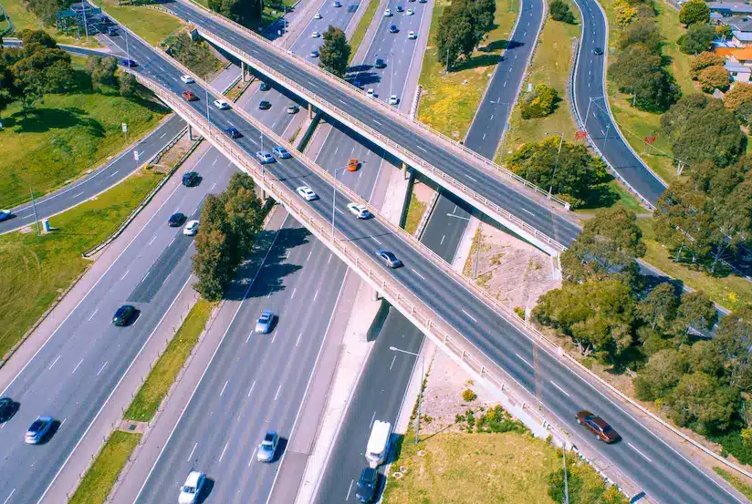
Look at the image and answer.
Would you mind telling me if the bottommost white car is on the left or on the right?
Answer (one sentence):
The bottommost white car is on the left side of the image.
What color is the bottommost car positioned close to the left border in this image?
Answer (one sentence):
From above, the bottommost car positioned close to the left border appears blue.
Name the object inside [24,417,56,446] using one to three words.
car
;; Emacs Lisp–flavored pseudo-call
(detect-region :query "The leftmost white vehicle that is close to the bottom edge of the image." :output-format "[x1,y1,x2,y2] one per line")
[178,469,207,504]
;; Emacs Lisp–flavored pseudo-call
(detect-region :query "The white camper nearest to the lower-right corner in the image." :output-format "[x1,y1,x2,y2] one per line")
[364,420,393,468]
